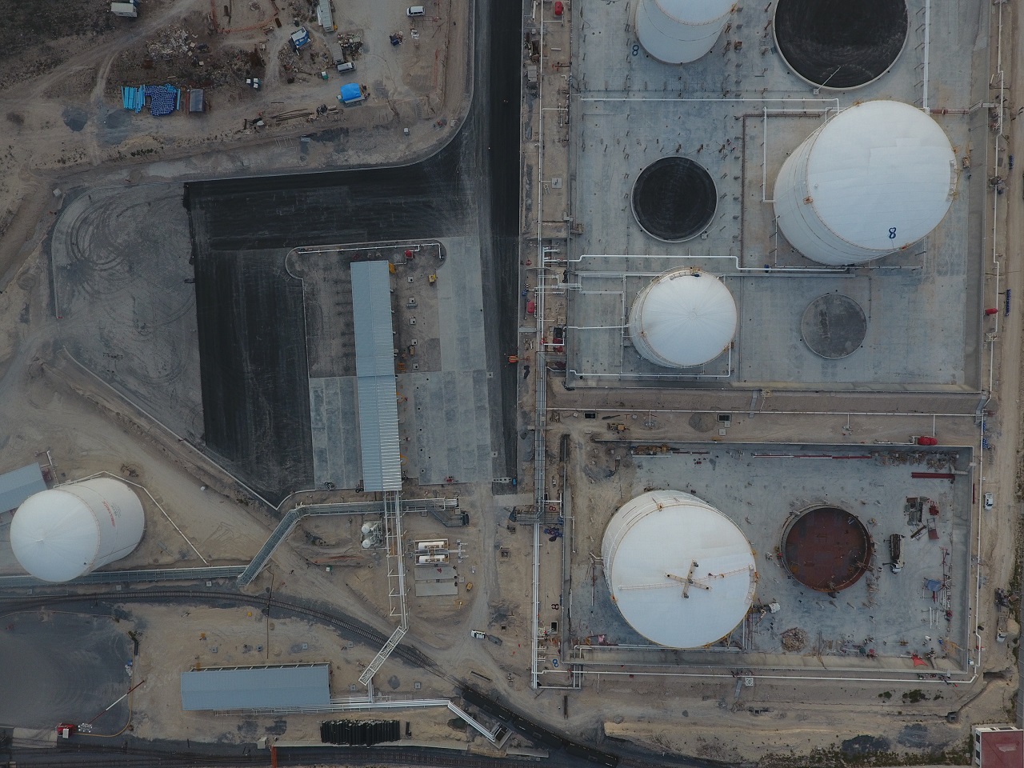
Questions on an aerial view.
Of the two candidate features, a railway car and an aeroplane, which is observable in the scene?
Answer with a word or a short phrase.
railway car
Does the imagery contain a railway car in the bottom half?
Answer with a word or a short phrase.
Yes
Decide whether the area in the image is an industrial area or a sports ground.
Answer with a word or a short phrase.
industrial area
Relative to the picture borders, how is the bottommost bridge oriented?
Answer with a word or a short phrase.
at an angle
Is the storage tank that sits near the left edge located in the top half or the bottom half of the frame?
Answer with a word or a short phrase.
bottom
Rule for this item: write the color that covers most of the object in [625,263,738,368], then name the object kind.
white storage tank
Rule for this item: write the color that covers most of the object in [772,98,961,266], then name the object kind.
white storage tank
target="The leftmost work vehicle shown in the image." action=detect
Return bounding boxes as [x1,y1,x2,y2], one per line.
[118,463,141,483]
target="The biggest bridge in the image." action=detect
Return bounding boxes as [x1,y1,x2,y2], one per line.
[359,620,412,686]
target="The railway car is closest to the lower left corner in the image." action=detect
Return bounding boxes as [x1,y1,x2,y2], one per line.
[460,686,513,729]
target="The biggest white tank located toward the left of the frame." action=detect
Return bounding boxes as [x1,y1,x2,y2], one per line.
[6,477,148,582]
